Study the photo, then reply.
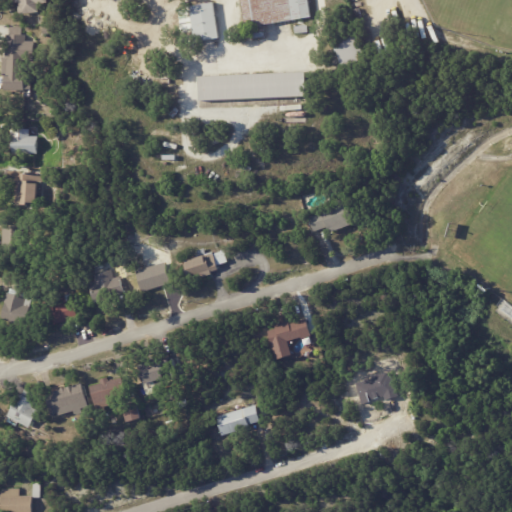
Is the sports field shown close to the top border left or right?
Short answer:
right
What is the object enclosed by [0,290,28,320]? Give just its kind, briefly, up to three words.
house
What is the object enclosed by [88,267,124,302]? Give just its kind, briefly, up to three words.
house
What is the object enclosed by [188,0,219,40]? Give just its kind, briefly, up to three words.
building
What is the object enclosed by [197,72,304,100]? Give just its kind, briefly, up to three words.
building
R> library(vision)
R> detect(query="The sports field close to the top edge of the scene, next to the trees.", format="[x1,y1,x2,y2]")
[428,0,512,48]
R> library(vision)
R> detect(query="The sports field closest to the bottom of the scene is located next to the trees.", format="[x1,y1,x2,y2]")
[471,168,512,292]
